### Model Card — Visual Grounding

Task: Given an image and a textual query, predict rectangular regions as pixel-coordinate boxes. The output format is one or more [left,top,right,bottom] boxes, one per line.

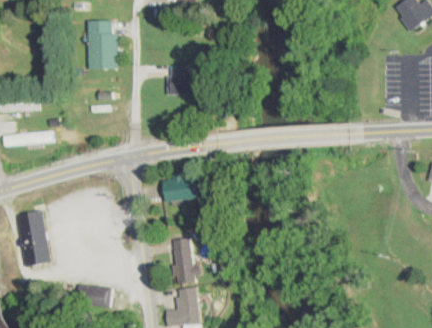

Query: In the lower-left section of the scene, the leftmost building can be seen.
[18,212,52,266]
